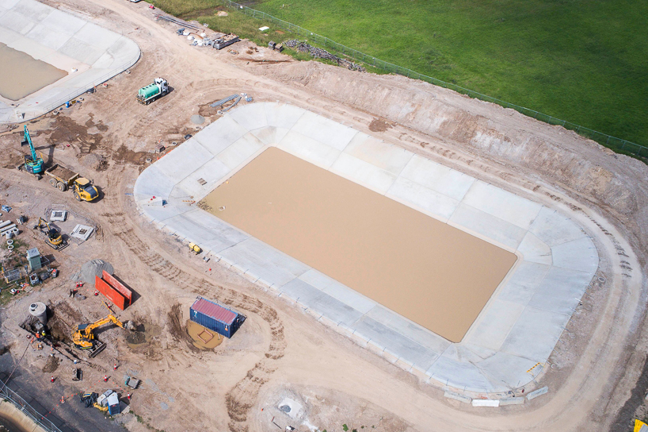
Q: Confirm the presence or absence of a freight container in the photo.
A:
Yes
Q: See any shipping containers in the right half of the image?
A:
No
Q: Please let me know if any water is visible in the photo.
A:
Yes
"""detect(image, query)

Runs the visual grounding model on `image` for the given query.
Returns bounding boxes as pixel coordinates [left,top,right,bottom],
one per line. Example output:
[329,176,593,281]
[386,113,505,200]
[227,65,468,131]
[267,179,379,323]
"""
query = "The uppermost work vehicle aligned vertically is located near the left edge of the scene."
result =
[21,123,48,177]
